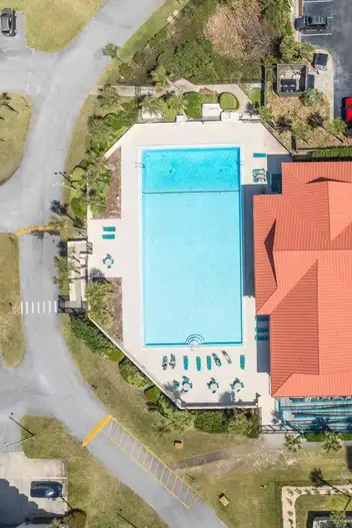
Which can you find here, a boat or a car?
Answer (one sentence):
Of the two, only a car appears.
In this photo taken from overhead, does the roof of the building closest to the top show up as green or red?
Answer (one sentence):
The color of the roof of the building closest to the top is red.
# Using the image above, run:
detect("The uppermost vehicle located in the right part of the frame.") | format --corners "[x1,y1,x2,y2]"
[295,14,328,32]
